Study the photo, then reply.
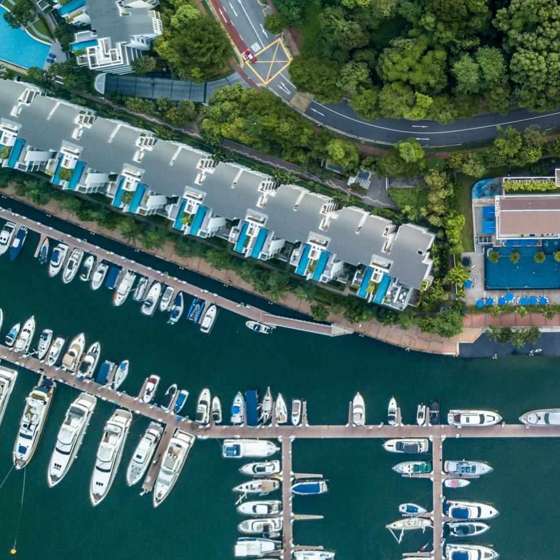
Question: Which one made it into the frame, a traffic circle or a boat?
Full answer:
I can see a boat in this picture.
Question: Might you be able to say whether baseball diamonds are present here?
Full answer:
No, I can see no baseball diamond in this picture.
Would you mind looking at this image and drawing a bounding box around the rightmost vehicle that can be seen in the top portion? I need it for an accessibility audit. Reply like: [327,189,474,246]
[238,48,256,61]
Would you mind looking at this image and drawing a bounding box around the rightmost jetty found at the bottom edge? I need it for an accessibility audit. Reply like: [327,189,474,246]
[402,438,499,560]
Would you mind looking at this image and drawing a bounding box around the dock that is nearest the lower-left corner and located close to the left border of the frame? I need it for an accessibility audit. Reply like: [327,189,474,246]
[0,345,203,492]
